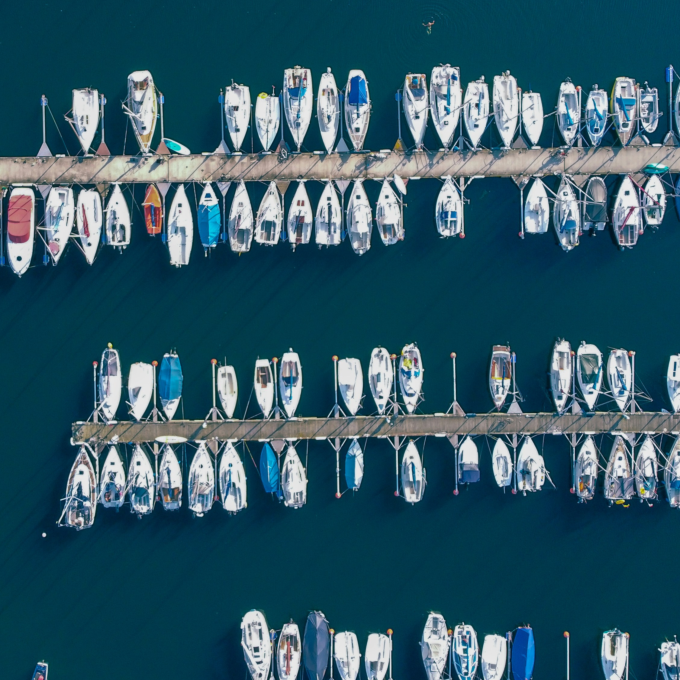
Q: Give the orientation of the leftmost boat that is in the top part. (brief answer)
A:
from top to bottom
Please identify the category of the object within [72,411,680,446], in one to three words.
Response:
pier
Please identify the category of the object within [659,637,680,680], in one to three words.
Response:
boat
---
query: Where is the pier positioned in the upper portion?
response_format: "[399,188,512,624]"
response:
[0,144,680,185]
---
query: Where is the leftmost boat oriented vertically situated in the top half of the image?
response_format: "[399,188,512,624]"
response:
[3,185,43,275]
